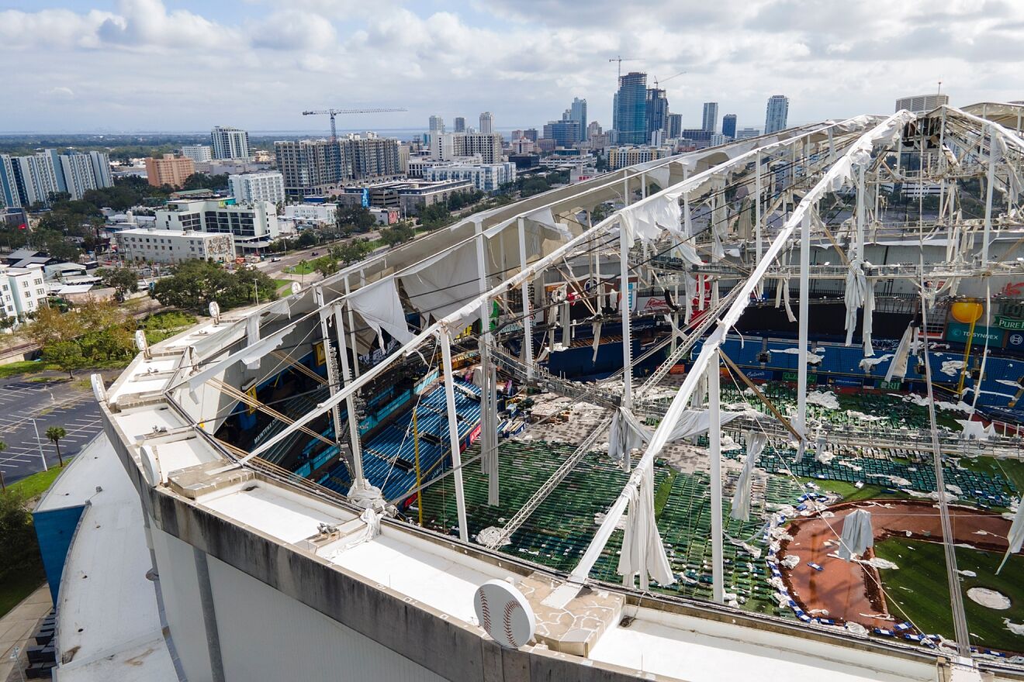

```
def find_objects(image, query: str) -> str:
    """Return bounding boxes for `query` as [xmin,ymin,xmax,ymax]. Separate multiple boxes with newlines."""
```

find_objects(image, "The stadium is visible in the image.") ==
[105,238,1024,682]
